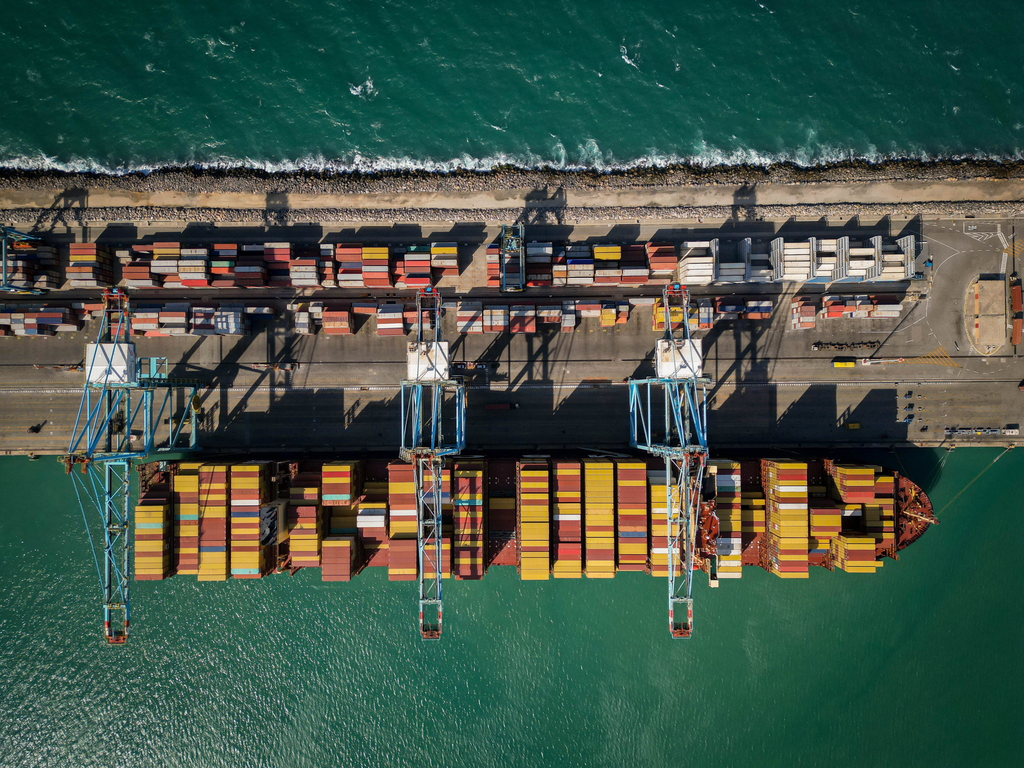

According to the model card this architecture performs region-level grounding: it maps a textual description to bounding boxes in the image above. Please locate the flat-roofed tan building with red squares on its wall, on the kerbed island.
[973,280,1008,345]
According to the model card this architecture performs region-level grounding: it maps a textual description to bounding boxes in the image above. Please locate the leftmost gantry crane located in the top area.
[0,225,45,302]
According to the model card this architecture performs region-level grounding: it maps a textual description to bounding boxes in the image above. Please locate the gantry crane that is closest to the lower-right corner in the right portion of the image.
[618,281,711,641]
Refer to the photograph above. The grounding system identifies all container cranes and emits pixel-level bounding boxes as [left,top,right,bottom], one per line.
[0,225,45,302]
[397,283,477,643]
[62,285,210,645]
[618,281,711,641]
[497,221,526,298]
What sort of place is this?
port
